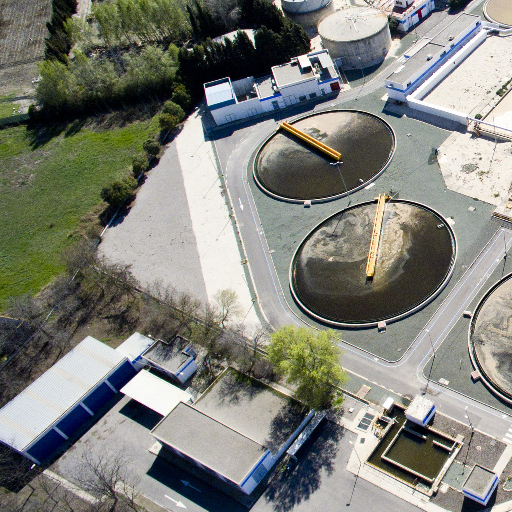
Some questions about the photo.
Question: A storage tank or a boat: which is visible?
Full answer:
There is a storage tank in the scene.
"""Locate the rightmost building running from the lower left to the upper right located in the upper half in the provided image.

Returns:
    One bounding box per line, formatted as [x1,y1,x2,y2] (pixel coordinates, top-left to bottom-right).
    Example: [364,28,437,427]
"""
[385,12,478,102]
